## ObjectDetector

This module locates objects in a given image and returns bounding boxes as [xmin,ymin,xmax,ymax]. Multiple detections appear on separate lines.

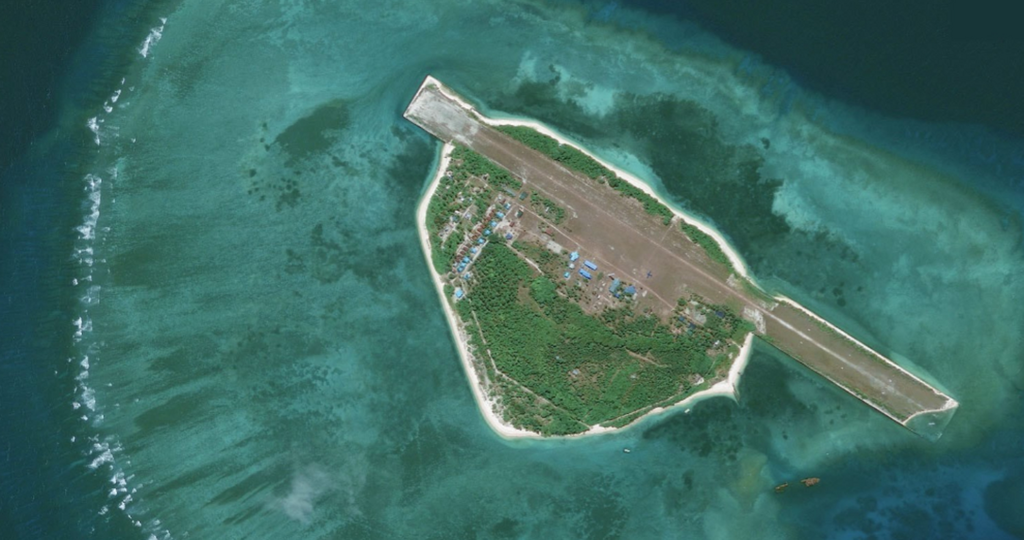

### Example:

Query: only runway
[409,88,942,420]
